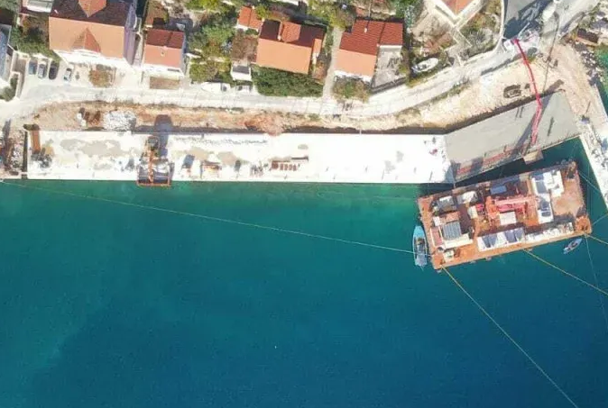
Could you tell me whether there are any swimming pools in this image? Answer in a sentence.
No, there isn't any swimming pool down there.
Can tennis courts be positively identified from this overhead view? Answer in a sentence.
No, the photo shows no tennis court.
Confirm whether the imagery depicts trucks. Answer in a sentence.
Yes, a truck can be made out from above.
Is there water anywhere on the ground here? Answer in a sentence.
Yes, there's water in this view.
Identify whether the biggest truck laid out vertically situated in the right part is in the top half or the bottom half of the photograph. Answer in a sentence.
You can find the biggest truck laid out vertically situated in the right part in the top half.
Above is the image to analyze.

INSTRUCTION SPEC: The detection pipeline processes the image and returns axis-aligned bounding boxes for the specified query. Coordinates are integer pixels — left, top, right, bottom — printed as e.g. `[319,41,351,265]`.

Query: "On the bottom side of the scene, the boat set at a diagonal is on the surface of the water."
[562,239,581,255]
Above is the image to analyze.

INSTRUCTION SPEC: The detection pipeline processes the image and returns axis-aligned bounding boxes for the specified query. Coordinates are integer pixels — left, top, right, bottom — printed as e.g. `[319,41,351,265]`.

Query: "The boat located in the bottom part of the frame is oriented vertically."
[414,224,427,266]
